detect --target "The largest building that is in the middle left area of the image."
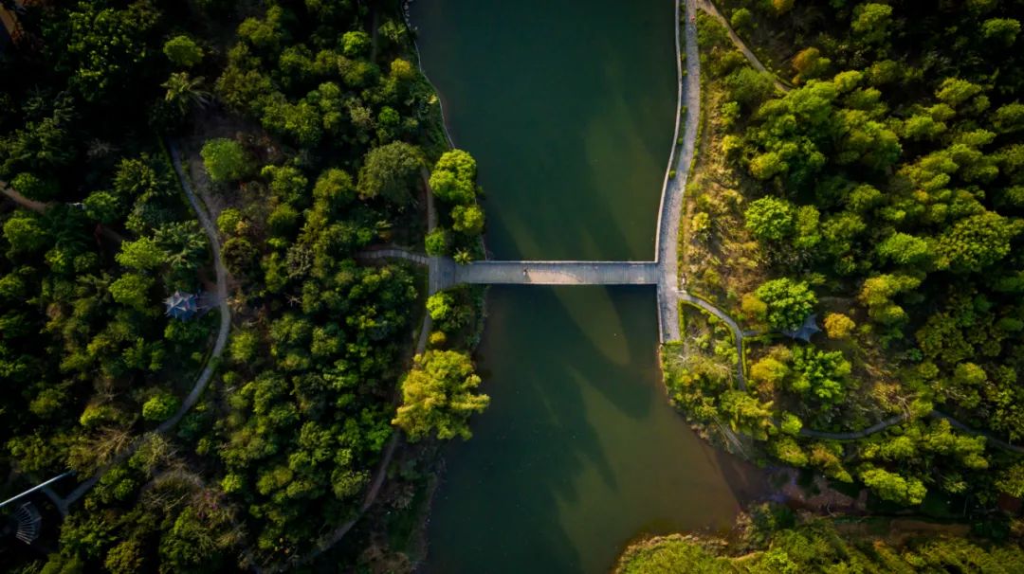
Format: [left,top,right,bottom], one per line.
[157,284,201,324]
